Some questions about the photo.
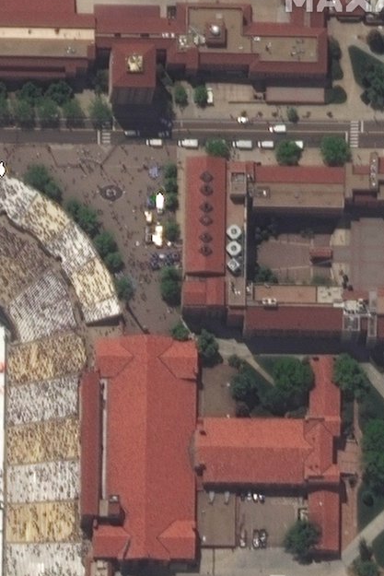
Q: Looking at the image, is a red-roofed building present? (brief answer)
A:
Yes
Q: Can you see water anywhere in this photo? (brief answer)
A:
No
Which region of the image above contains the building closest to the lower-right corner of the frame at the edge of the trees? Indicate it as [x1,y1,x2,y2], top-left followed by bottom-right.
[196,353,340,554]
